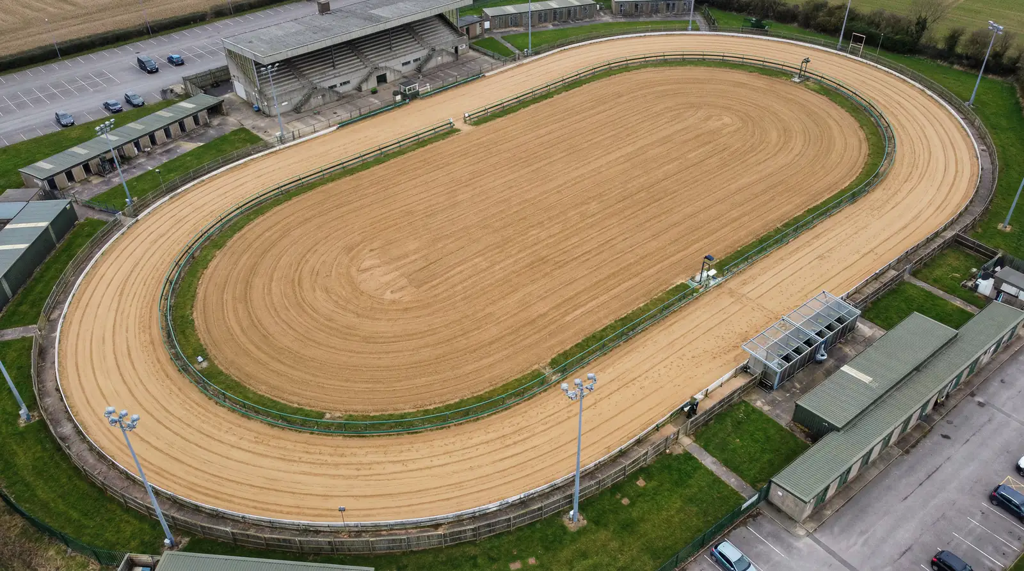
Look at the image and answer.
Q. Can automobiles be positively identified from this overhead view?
Yes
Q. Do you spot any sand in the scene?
Yes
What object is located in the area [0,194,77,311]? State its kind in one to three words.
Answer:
shed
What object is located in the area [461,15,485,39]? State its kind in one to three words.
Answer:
shed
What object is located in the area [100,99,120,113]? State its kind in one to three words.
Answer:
car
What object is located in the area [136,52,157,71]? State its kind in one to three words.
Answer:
vehicle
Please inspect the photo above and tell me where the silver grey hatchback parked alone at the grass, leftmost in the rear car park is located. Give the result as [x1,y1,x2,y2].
[53,110,72,127]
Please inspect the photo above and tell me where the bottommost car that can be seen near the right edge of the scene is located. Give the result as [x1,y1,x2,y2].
[928,546,976,571]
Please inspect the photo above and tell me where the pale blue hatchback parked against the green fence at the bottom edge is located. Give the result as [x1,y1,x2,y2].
[715,539,765,571]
